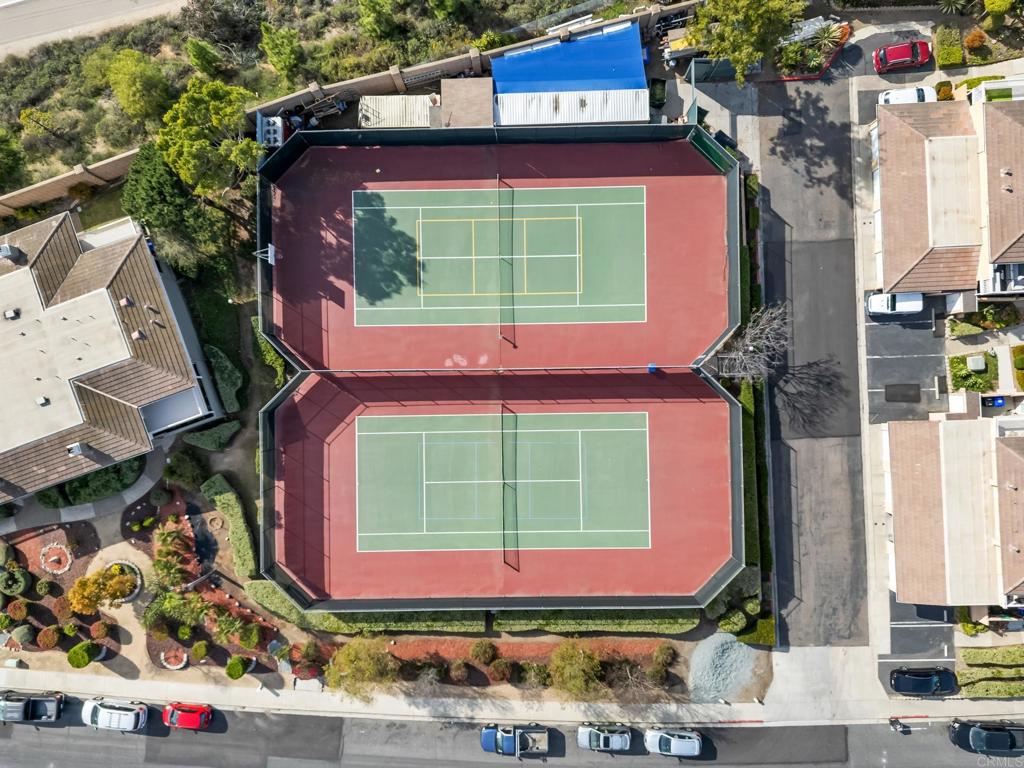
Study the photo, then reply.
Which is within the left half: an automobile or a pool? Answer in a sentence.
It is an automobile that can be seen within the left half.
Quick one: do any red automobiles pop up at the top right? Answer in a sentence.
Yes, at the top right there is a red automobile.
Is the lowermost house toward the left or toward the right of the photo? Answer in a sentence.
It is on the right.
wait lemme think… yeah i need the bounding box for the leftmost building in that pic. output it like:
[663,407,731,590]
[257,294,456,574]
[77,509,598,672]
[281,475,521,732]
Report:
[0,211,235,504]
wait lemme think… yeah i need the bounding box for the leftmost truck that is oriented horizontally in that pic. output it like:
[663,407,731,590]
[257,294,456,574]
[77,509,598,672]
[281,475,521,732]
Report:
[0,690,69,723]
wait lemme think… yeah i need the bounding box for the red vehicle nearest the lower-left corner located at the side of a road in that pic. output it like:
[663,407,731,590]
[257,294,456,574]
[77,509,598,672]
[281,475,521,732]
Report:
[165,700,215,730]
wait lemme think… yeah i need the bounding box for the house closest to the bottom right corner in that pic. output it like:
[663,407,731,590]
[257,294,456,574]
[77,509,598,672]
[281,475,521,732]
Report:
[877,416,1024,626]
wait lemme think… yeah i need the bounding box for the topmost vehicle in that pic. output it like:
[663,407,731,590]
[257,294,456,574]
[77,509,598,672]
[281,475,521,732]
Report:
[869,38,929,75]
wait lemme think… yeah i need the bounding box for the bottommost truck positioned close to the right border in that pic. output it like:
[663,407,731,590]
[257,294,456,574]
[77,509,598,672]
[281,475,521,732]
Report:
[945,718,1024,757]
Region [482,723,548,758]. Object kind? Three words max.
truck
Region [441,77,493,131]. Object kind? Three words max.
shed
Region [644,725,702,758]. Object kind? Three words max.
car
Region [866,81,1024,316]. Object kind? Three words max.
house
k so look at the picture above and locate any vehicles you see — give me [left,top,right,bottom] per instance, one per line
[85,696,150,731]
[576,722,630,752]
[0,690,69,723]
[875,81,937,105]
[890,666,954,699]
[165,700,215,730]
[945,718,1024,757]
[869,38,929,75]
[482,723,548,758]
[644,725,702,758]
